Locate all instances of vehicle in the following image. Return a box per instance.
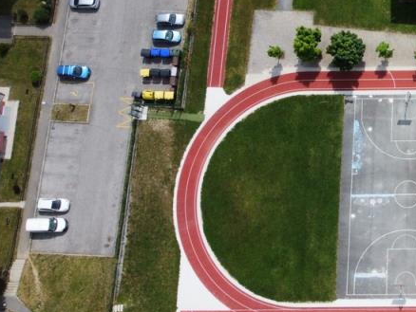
[38,198,71,213]
[22,215,71,233]
[70,0,101,10]
[155,12,186,28]
[55,64,92,80]
[151,29,182,44]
